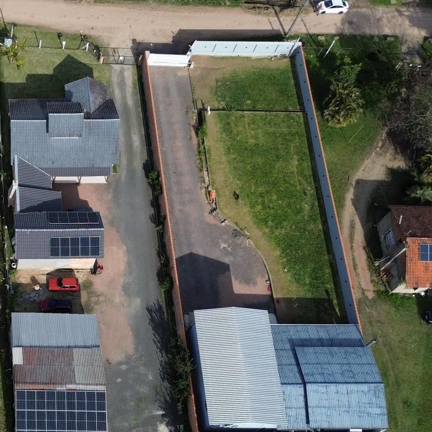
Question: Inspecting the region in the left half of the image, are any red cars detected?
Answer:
Yes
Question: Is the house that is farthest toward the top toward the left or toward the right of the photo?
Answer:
left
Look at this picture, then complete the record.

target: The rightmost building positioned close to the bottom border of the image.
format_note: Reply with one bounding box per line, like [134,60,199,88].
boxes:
[270,323,387,432]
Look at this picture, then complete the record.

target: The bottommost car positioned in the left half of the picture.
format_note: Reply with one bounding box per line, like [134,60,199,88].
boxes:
[39,295,74,313]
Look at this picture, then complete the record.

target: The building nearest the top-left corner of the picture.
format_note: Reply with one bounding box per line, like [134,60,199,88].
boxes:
[6,76,120,213]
